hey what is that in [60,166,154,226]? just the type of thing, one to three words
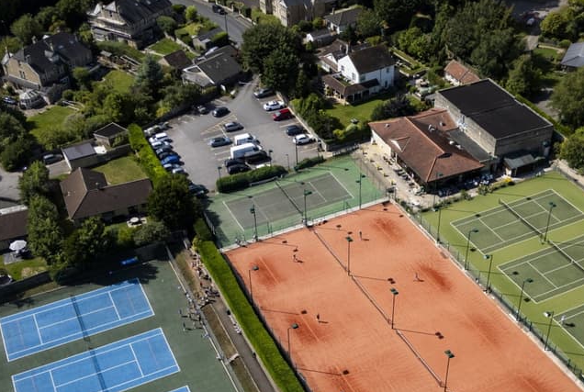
house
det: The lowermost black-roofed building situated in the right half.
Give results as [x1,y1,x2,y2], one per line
[438,79,553,179]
